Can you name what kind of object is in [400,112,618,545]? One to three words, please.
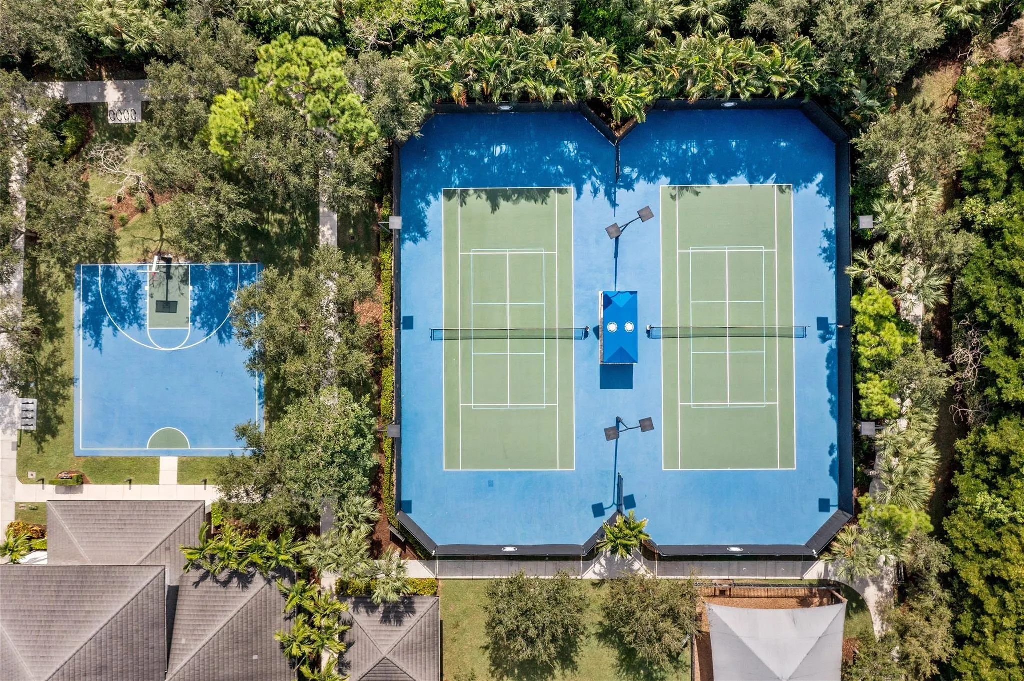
tennis court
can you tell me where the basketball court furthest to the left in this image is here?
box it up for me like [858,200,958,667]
[74,261,264,456]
